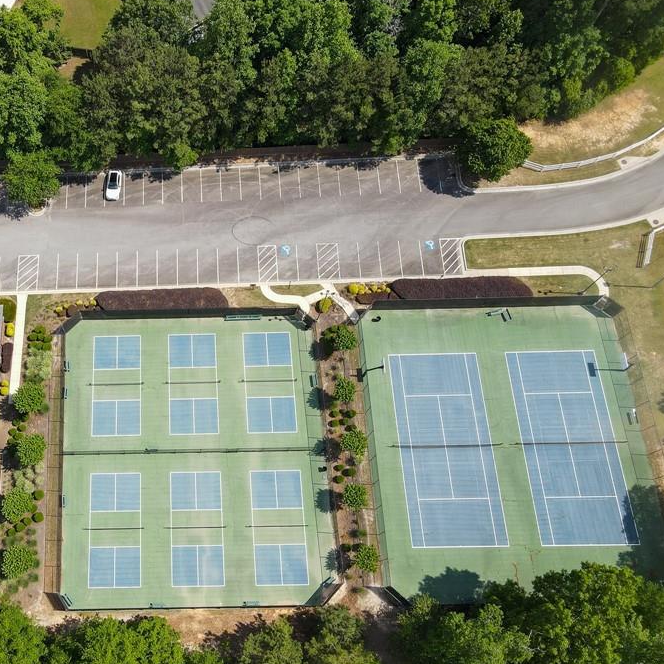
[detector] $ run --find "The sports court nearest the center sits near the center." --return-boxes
[242,332,298,434]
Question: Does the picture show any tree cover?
Yes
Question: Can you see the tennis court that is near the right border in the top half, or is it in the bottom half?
bottom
